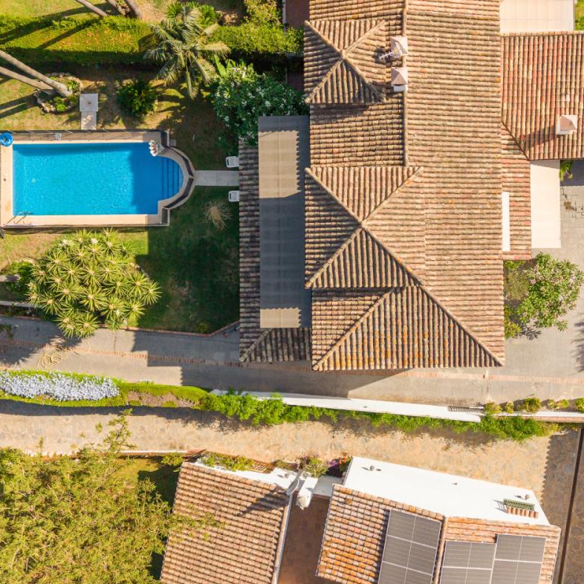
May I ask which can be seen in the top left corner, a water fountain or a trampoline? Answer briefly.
water fountain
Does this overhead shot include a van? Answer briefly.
No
